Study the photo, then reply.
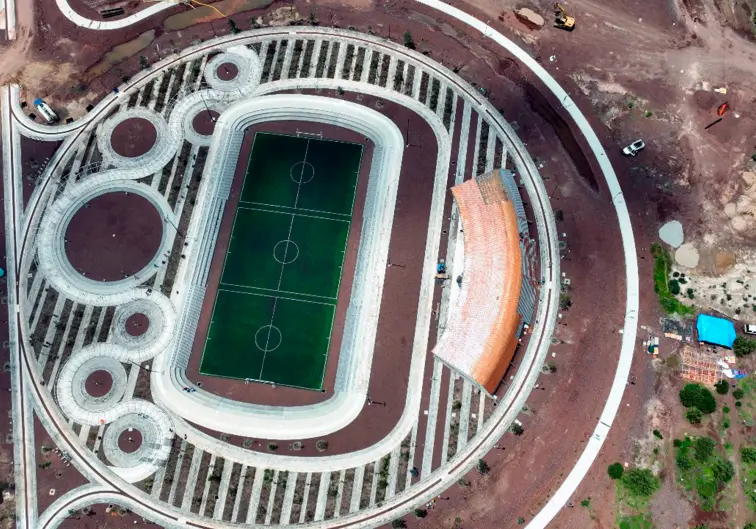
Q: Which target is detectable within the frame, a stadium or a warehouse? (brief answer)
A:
stadium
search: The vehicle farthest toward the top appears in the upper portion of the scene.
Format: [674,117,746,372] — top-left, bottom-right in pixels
[544,0,580,32]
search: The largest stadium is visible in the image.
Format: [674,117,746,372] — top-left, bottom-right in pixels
[151,94,404,445]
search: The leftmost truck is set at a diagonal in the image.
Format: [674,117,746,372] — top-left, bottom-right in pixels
[29,92,58,122]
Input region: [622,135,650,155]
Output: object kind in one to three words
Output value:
vehicle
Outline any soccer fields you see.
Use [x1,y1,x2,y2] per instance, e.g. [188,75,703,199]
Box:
[196,131,365,392]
